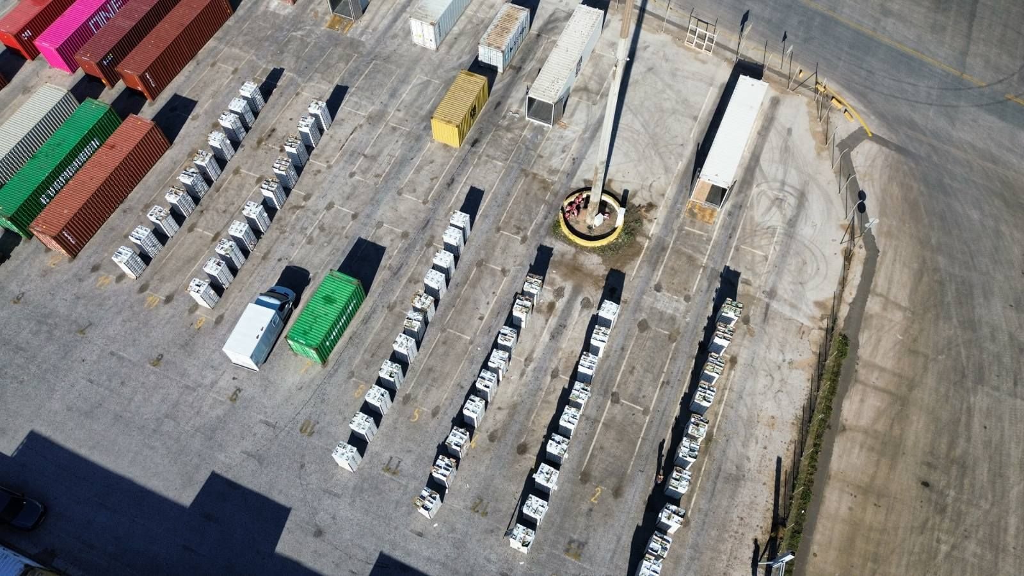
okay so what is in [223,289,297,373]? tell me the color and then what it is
white truck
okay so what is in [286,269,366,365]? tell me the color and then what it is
green shipping container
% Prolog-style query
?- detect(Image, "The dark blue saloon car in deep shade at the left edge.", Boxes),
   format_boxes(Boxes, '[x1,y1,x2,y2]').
[0,487,51,537]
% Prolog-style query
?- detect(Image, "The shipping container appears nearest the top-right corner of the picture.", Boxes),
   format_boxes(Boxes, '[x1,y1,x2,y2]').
[691,74,768,209]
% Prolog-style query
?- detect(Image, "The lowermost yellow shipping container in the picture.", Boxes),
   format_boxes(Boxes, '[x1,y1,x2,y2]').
[431,69,488,147]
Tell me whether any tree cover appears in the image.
No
